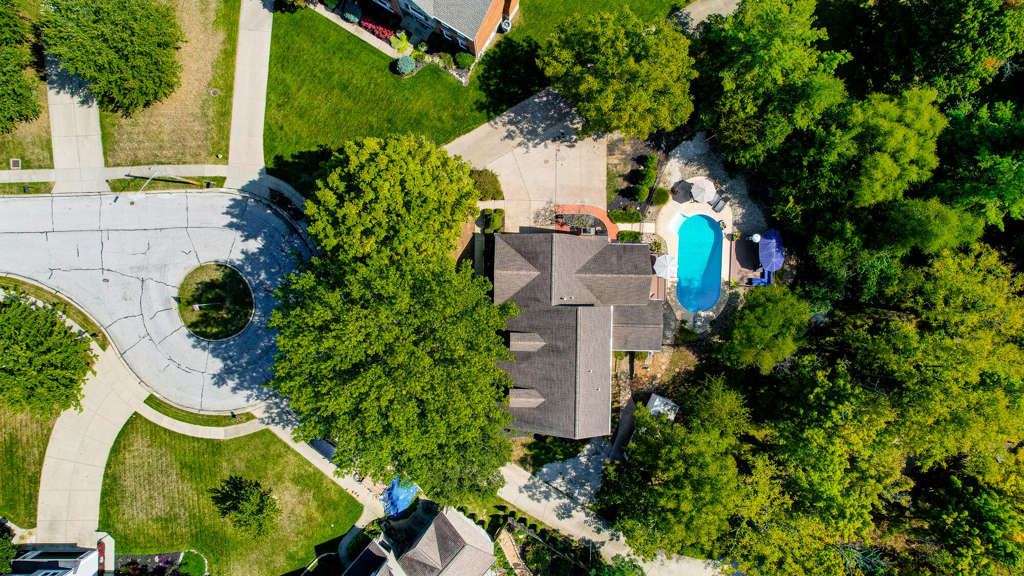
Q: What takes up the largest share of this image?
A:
trees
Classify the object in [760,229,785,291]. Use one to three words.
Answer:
umbrella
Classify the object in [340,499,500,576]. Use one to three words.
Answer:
house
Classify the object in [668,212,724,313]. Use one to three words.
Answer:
swimming pool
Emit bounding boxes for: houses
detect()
[0,550,98,576]
[363,0,517,58]
[485,226,663,440]
[340,499,500,576]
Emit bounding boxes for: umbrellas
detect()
[760,229,785,291]
[652,254,678,280]
[690,178,716,204]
